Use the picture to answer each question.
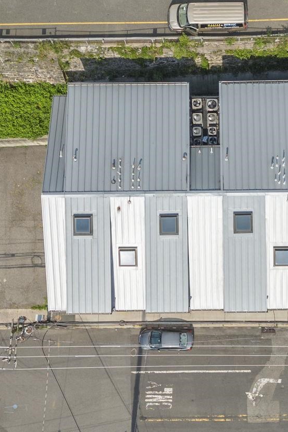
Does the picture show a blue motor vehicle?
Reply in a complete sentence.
No, no blue motor vehicle is visible in the scene.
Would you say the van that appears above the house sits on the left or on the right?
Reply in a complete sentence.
The van that appears above the house appears in the right half of the scene.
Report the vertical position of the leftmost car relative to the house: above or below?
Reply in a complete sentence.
The leftmost car appears below the house in the picture.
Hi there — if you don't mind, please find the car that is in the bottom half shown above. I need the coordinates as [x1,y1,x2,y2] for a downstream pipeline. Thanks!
[138,325,195,353]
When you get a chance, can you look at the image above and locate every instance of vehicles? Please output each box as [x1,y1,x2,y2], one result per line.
[138,325,195,353]
[170,0,246,40]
